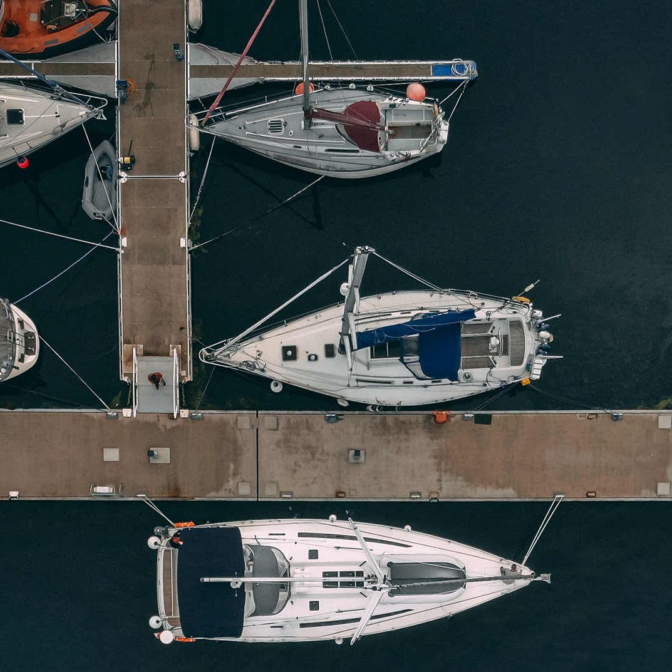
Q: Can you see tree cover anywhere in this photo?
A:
No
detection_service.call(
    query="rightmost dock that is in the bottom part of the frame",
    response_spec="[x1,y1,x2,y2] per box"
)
[257,410,672,502]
